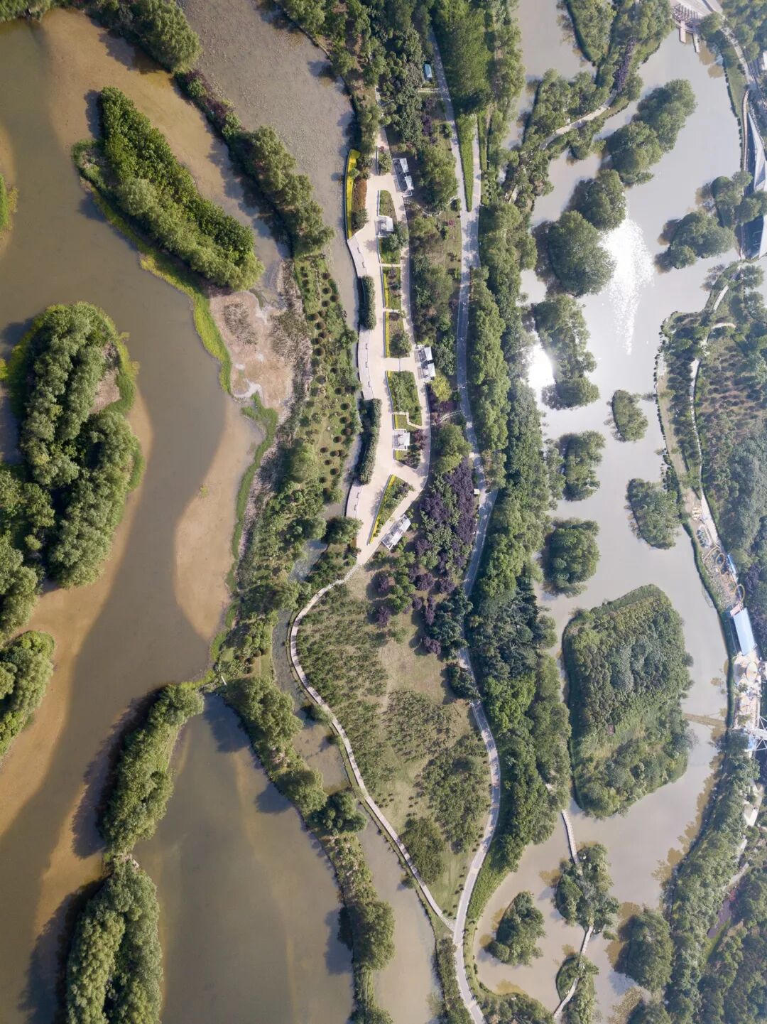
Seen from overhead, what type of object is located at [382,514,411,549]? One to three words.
building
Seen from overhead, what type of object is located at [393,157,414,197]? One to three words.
building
